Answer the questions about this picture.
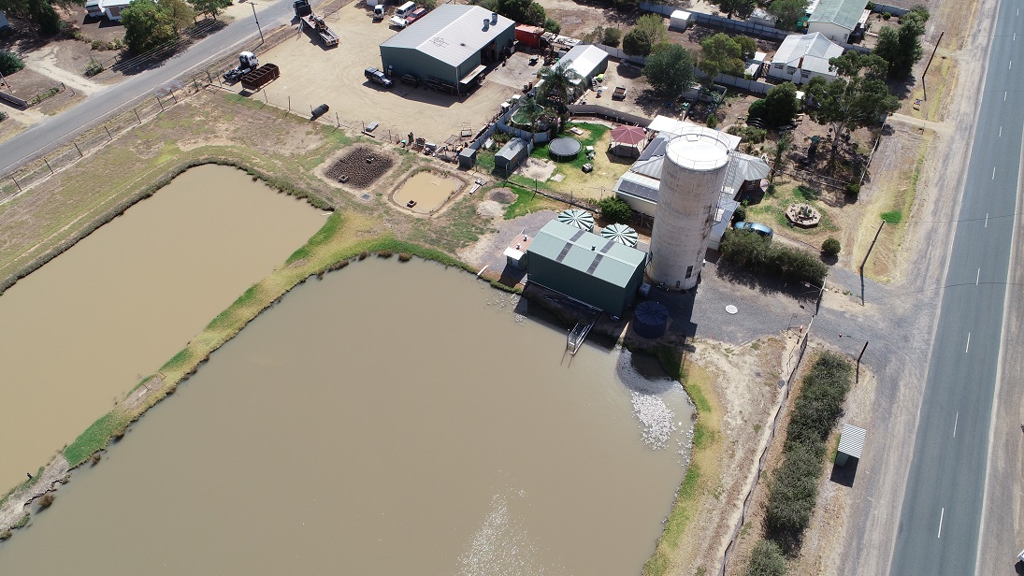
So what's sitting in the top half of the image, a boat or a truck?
truck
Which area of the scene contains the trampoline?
top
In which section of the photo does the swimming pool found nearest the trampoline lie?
top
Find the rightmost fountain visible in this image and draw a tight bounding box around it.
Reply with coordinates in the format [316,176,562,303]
[785,206,820,229]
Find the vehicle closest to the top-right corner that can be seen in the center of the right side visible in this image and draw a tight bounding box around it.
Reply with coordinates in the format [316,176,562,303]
[735,221,775,244]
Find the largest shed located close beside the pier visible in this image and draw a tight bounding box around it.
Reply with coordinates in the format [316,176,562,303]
[525,219,649,318]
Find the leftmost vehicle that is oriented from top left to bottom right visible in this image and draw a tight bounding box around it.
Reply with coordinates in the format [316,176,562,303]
[282,0,341,44]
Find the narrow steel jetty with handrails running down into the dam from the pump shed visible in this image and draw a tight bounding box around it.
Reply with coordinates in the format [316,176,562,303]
[568,323,607,360]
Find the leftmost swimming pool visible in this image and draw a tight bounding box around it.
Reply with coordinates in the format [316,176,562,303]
[510,110,543,136]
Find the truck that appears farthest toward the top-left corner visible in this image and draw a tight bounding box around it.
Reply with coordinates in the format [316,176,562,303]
[216,53,263,86]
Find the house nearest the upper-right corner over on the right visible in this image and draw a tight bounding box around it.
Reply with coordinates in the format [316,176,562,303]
[805,0,870,43]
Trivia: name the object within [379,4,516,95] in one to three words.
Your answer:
building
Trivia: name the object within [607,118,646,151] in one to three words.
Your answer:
gazebo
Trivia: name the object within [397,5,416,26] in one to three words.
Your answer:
vehicle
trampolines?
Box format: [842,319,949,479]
[549,138,581,160]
